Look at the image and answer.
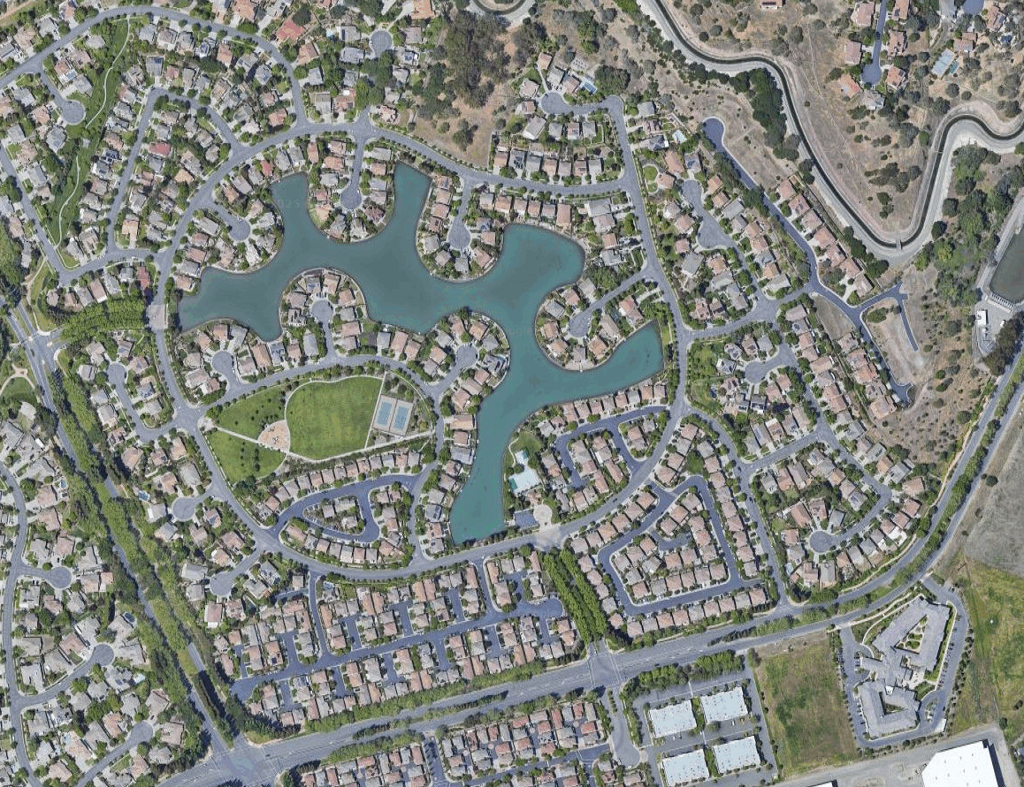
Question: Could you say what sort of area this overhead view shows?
residential area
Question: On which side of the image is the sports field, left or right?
left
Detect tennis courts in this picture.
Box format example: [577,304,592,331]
[389,401,413,436]
[373,396,397,431]
[932,48,956,77]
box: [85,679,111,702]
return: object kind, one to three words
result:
house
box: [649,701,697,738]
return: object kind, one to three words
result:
building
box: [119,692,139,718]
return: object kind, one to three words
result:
house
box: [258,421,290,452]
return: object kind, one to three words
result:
playground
